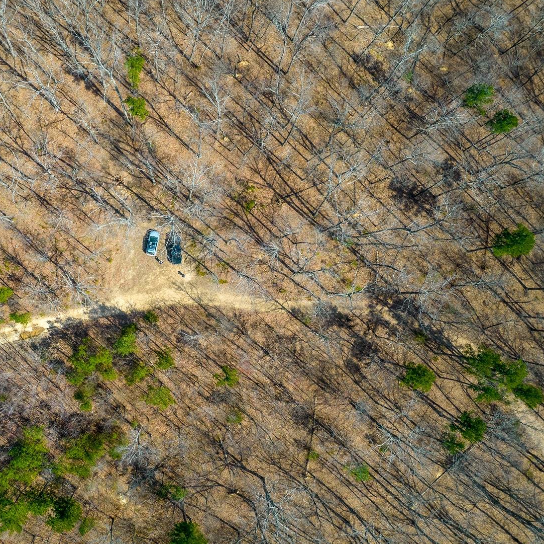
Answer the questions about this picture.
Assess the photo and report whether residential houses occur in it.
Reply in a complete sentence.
No, no residential house is visible in the scene.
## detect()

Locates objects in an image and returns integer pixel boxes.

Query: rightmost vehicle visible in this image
[169,232,184,265]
